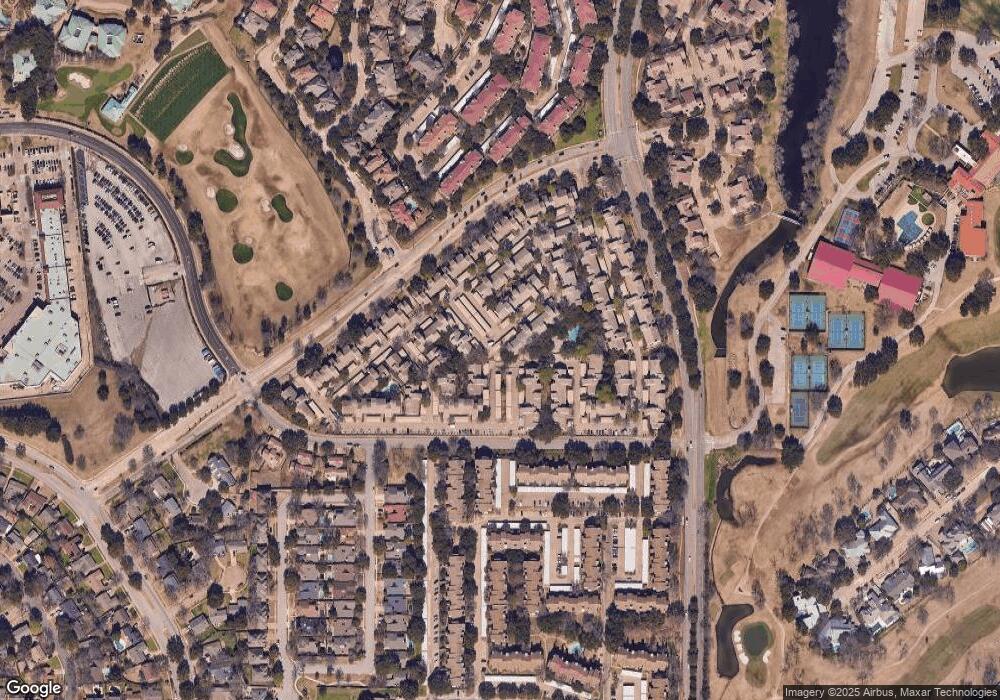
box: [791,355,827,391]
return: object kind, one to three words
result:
tennis court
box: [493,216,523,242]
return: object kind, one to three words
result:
house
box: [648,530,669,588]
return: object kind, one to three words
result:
building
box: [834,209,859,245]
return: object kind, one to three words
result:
sports court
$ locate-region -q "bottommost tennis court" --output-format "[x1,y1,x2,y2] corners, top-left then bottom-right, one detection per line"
[791,392,809,428]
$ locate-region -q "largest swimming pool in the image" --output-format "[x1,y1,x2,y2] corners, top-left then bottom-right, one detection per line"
[889,185,943,249]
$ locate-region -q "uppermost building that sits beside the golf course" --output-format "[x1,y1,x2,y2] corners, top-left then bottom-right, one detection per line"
[960,200,987,256]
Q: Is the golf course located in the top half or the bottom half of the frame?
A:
bottom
